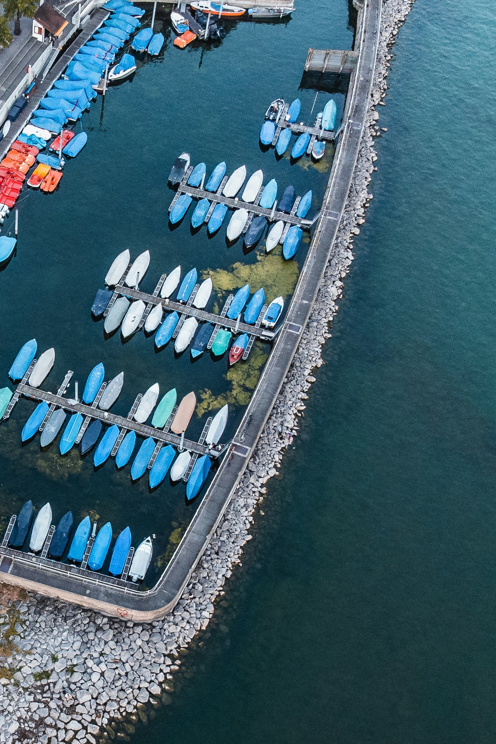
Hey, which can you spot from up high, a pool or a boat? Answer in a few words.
boat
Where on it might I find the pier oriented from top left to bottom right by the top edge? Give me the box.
[173,10,212,44]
